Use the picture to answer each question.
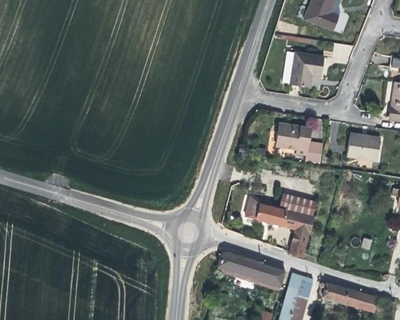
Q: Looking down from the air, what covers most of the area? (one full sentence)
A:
The scene is dominated by farmland.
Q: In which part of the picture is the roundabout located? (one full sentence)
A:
The roundabout sits in the bottom section of the image.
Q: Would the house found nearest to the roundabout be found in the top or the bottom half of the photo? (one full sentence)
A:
It is in the bottom half that the house found nearest to the roundabout appears.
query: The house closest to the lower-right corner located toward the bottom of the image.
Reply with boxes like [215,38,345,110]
[324,283,378,314]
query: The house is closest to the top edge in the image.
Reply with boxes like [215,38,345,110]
[304,0,342,31]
